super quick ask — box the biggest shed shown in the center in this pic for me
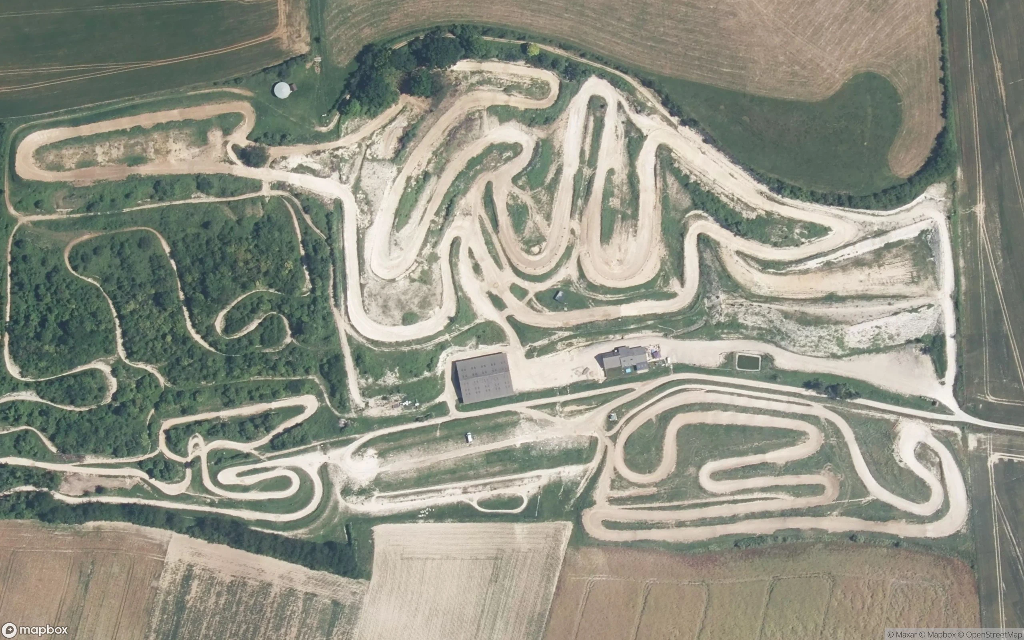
[456,353,513,404]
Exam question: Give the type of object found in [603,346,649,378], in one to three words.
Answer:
house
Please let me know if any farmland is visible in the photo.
Yes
